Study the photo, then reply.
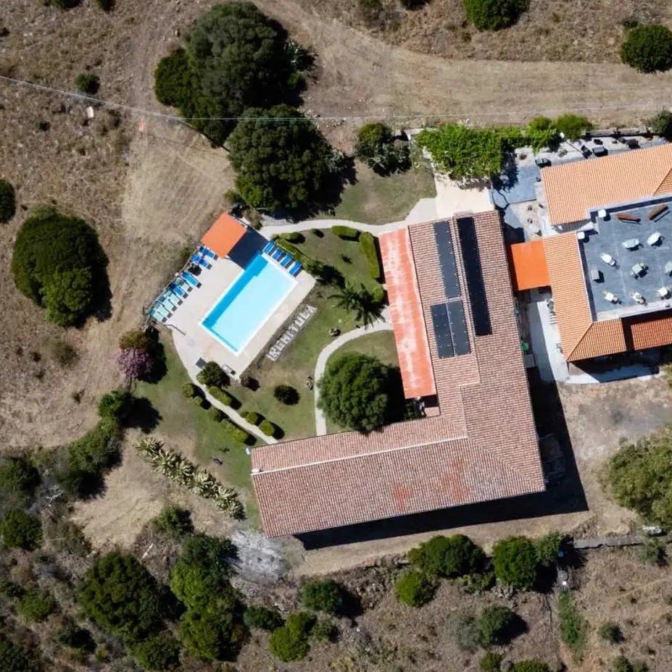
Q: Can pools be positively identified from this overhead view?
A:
Yes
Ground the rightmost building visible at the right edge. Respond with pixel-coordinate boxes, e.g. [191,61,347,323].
[540,142,672,361]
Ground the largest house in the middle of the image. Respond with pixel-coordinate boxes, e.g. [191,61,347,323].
[249,211,545,537]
